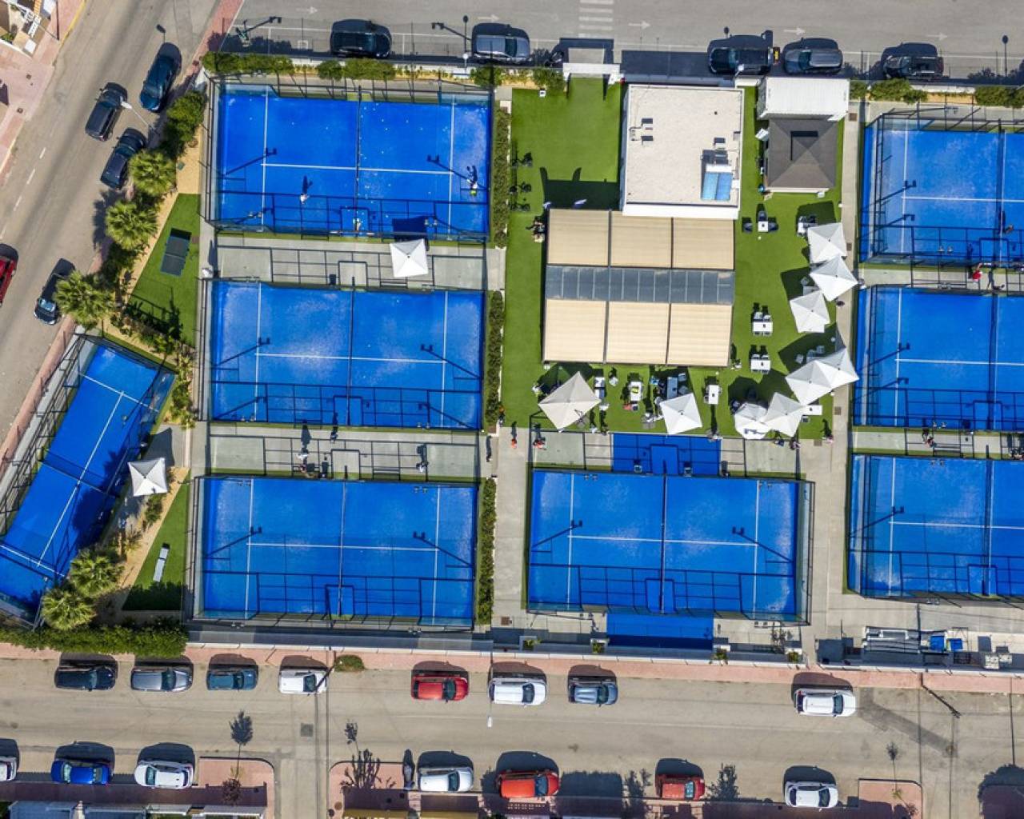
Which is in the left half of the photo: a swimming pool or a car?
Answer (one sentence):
You can see a car in the left half of the photo.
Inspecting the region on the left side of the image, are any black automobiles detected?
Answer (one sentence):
Yes, on the left side of the image there is a black automobile.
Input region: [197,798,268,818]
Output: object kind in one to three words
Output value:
house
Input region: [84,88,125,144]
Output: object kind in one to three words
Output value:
car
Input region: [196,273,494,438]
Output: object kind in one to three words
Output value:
sports court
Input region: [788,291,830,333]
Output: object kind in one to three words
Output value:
umbrella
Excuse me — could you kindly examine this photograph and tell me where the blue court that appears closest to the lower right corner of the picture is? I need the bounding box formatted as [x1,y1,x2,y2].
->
[843,447,1024,607]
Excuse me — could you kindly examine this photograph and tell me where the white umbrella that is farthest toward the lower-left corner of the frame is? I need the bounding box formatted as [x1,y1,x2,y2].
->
[128,456,168,497]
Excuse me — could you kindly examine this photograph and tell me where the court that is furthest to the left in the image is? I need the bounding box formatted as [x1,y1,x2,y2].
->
[0,332,181,629]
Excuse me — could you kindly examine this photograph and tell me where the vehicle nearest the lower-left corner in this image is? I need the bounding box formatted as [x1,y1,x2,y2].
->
[0,756,22,783]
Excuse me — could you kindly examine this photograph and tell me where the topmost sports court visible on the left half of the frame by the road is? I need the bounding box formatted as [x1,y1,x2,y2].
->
[205,71,501,248]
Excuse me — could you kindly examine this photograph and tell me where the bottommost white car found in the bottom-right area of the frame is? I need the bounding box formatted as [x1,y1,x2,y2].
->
[784,779,839,812]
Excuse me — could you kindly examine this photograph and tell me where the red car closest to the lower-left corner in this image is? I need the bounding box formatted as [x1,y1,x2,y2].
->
[411,672,469,703]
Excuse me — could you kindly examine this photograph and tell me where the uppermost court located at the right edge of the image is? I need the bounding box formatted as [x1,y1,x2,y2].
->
[854,100,1024,272]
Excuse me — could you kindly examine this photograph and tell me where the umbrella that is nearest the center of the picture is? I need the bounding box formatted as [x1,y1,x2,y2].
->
[541,374,597,430]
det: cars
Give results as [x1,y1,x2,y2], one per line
[138,49,182,113]
[0,756,22,783]
[330,29,392,61]
[781,43,844,76]
[206,665,258,694]
[784,779,839,812]
[99,134,142,193]
[411,672,469,703]
[53,663,118,695]
[568,677,618,706]
[0,249,22,306]
[278,667,327,695]
[50,758,114,789]
[656,774,705,804]
[33,271,72,328]
[84,88,125,144]
[489,675,547,706]
[793,688,857,720]
[881,49,945,81]
[130,664,194,696]
[417,764,474,796]
[708,42,780,76]
[134,760,194,792]
[497,769,559,803]
[472,32,532,63]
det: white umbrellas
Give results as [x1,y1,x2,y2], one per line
[787,356,836,406]
[761,392,807,437]
[788,291,830,333]
[809,253,858,302]
[658,392,701,435]
[128,456,168,497]
[819,348,858,387]
[732,402,769,439]
[389,238,429,278]
[806,221,846,261]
